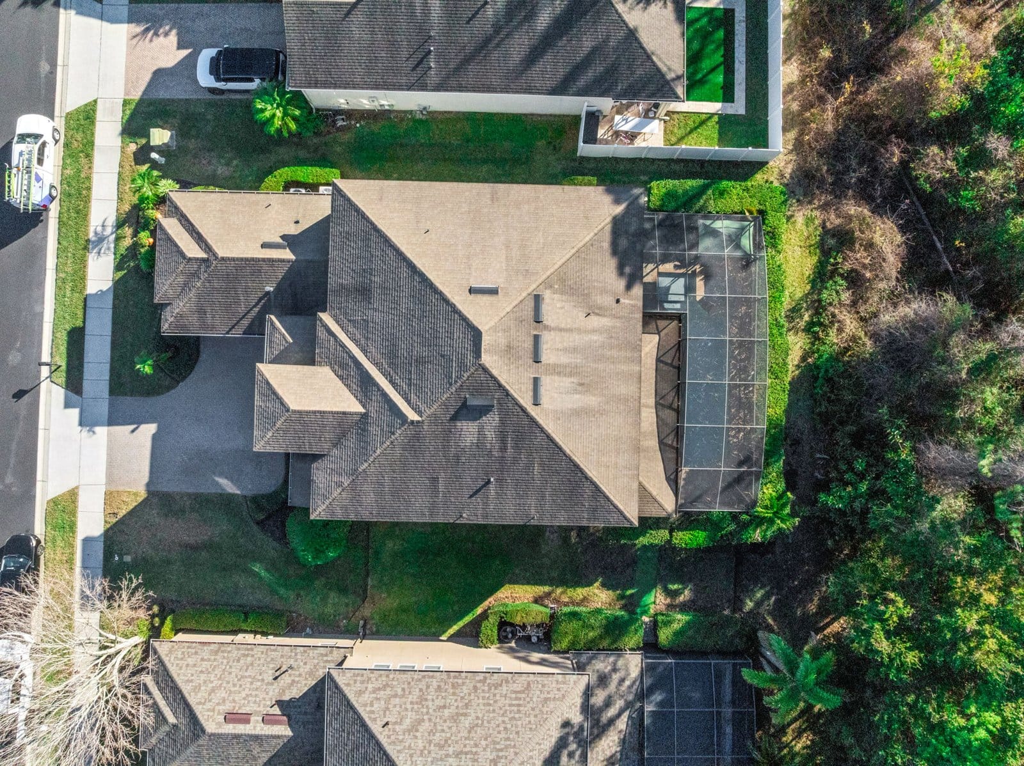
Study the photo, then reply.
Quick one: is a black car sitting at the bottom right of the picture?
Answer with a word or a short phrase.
No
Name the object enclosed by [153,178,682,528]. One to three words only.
house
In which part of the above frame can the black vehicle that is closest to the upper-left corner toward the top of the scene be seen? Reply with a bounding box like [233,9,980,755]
[195,45,284,93]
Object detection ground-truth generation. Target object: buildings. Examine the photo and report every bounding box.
[138,631,644,766]
[153,178,682,528]
[278,0,686,117]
